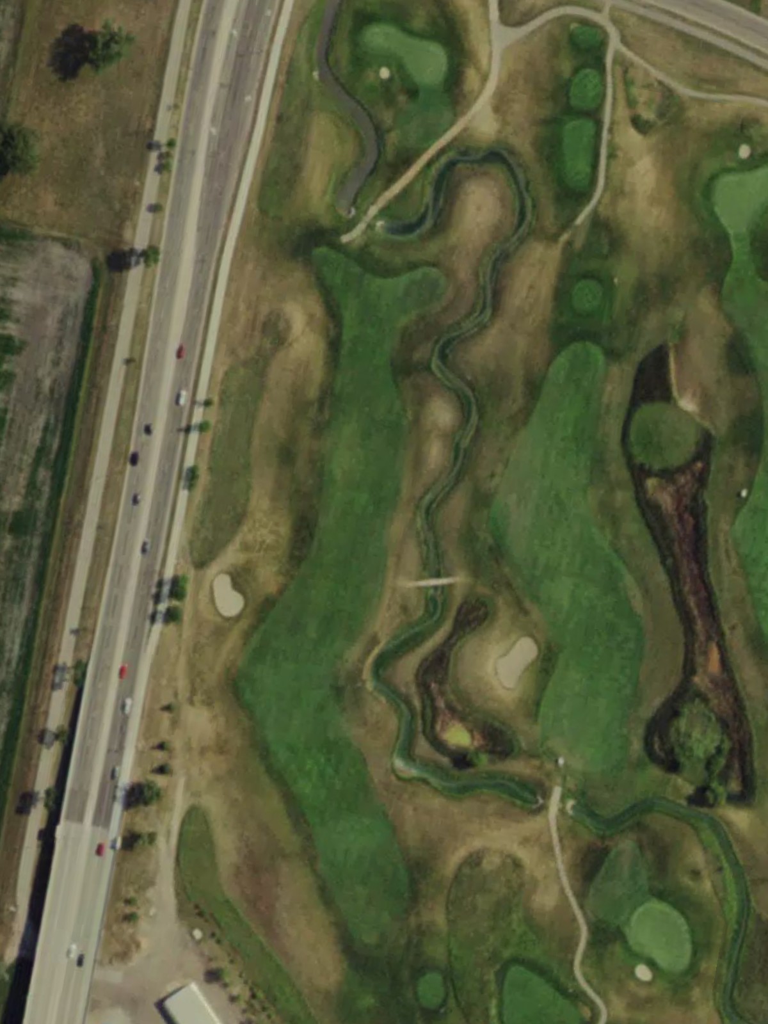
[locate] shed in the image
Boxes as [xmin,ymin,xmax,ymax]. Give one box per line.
[164,981,224,1024]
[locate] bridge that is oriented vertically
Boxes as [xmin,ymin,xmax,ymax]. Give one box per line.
[23,822,121,1024]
